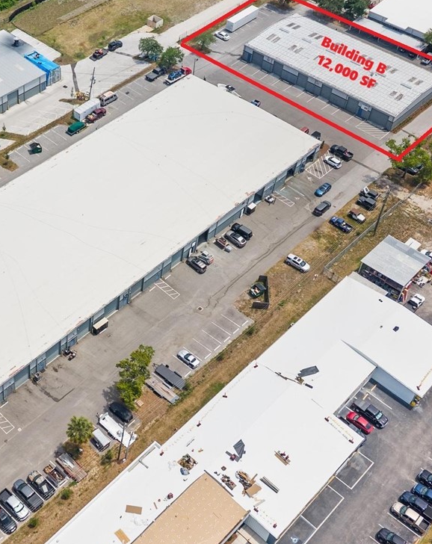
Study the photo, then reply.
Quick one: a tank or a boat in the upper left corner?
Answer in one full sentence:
You can see a boat in the upper left corner.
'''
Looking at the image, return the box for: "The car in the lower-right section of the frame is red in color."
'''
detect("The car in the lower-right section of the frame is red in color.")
[343,411,372,434]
